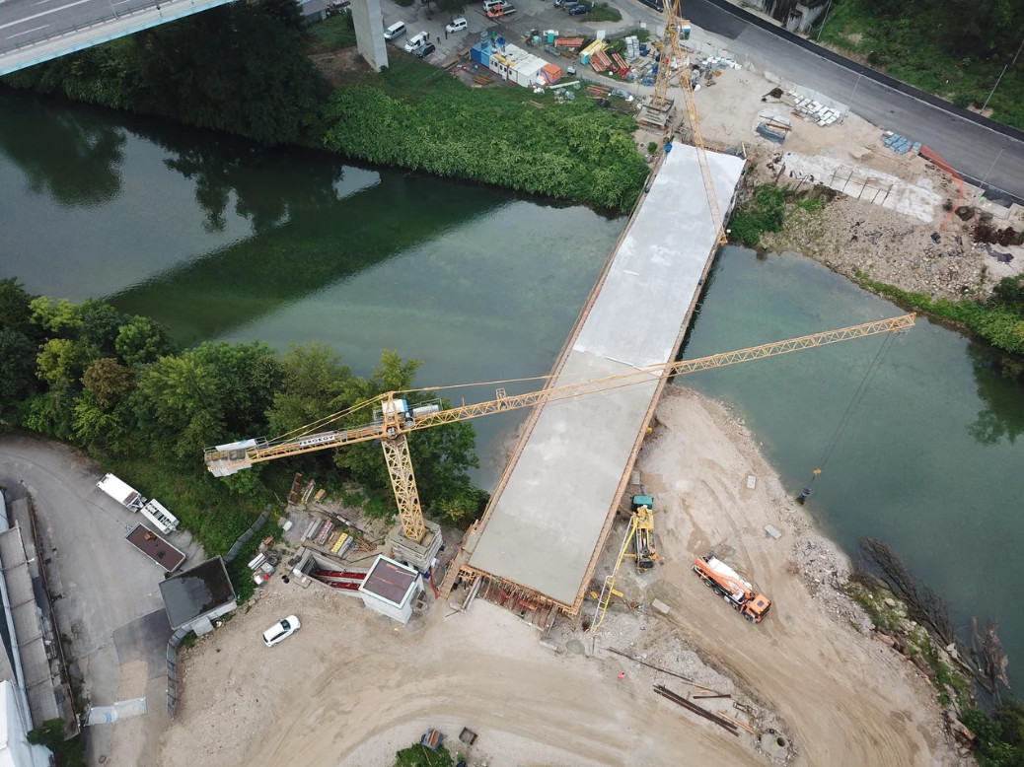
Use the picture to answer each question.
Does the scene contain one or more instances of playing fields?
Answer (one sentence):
No, I can see no playing field in this picture.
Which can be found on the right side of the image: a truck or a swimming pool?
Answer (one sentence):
It is a truck that can be seen on the right side of the image.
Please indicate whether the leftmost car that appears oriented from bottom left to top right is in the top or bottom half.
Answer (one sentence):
The leftmost car that appears oriented from bottom left to top right is in the bottom half of the image.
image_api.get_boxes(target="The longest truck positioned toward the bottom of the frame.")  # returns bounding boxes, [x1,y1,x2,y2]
[584,482,673,658]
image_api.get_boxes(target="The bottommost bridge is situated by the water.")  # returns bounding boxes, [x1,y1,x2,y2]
[440,140,753,655]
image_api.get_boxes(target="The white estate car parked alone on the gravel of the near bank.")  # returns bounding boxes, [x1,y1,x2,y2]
[258,614,302,648]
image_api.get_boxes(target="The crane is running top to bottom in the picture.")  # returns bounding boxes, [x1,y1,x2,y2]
[641,0,731,243]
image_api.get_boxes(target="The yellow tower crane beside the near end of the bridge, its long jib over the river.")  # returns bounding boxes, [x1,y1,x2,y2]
[201,307,920,580]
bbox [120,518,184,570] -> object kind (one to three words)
trailer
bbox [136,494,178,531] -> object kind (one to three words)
trailer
